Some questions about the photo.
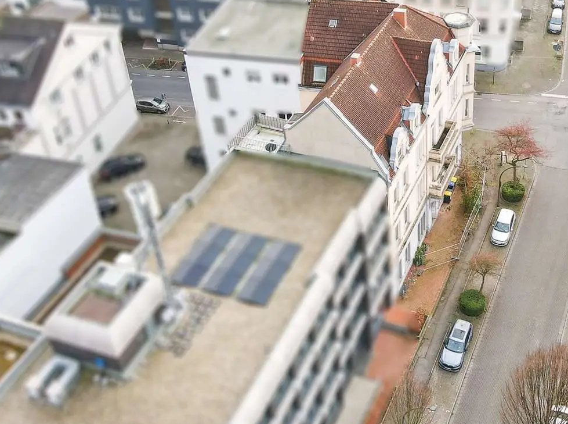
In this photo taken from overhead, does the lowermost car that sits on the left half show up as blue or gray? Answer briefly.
gray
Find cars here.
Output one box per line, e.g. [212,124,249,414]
[136,95,173,116]
[547,10,565,32]
[437,319,474,374]
[551,0,565,8]
[169,56,190,72]
[91,193,129,215]
[96,155,146,179]
[180,144,206,171]
[490,210,517,246]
